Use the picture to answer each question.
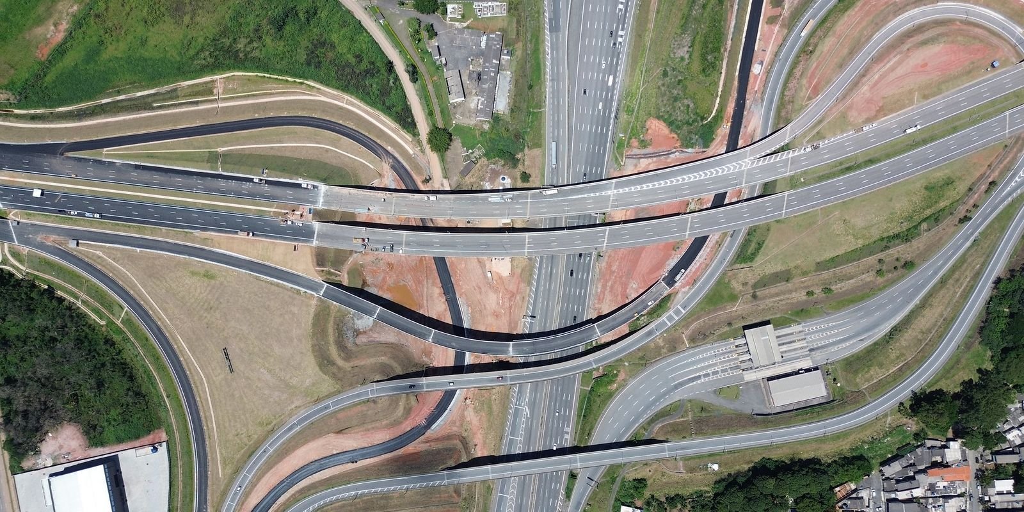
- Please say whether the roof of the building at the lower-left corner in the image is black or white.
white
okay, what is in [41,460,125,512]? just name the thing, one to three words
building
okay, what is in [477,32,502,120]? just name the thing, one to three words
shed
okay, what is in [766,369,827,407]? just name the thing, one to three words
building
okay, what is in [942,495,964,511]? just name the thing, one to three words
house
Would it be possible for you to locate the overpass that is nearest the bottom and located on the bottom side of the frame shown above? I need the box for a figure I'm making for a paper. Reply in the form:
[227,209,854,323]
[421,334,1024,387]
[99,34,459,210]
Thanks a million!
[445,443,668,485]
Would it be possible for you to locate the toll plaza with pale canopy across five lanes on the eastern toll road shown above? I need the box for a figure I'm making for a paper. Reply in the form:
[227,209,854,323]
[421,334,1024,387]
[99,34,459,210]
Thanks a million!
[731,325,812,382]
